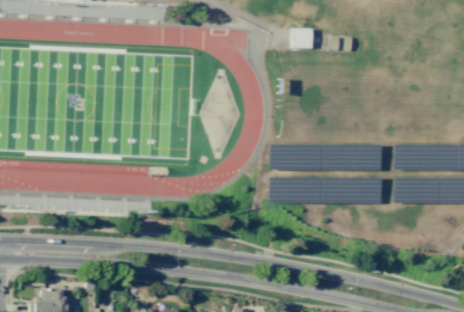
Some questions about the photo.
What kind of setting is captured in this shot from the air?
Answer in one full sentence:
What you see here is a sports ground.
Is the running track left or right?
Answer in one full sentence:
The running track sits on the left side.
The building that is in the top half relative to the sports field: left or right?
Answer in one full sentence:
The building that is in the top half can be seen on the right of the sports field.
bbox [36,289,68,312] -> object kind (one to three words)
house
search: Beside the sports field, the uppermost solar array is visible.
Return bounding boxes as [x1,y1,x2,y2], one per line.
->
[270,145,382,170]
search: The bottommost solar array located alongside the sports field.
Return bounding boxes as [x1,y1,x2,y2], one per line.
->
[270,178,382,204]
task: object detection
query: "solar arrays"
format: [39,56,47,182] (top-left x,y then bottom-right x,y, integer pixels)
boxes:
[394,145,464,170]
[270,178,382,204]
[394,178,464,204]
[270,145,382,170]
